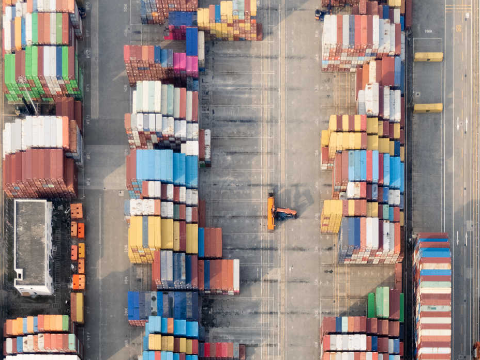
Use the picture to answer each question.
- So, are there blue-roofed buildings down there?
No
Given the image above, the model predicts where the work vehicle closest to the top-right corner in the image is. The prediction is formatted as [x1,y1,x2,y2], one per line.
[312,0,329,21]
